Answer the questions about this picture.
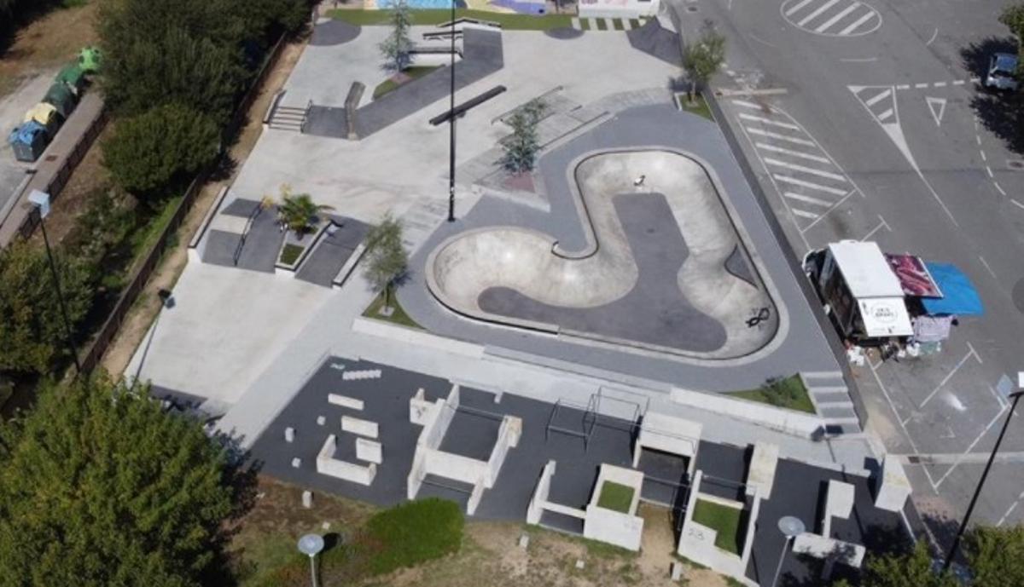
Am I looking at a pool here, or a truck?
truck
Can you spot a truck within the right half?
Yes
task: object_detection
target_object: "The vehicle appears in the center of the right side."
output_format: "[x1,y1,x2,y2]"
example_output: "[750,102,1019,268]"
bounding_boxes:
[811,242,913,350]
